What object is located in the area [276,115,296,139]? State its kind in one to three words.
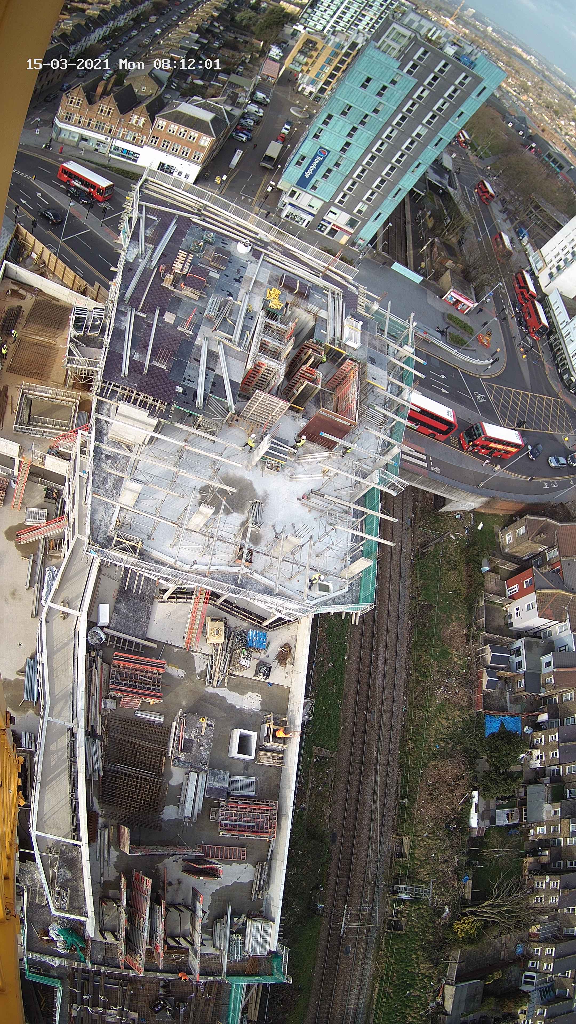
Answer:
car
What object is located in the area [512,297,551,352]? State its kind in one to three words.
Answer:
bus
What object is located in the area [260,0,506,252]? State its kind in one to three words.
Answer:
building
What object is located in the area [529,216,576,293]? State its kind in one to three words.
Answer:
building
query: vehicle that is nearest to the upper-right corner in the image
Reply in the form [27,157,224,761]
[454,130,471,151]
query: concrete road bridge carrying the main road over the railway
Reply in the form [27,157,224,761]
[387,457,492,512]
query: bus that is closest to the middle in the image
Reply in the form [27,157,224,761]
[395,389,455,438]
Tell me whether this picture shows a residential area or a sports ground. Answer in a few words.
residential area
